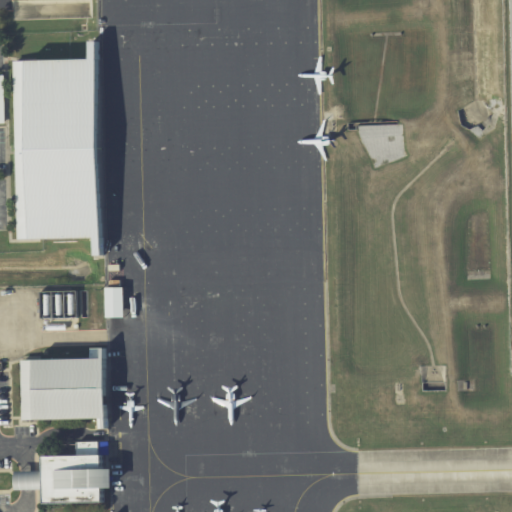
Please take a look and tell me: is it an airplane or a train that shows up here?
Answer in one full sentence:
The image shows an airplane.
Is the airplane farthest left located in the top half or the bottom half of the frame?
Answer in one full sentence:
Seen from above, the airplane farthest left lies in the bottom half of the view.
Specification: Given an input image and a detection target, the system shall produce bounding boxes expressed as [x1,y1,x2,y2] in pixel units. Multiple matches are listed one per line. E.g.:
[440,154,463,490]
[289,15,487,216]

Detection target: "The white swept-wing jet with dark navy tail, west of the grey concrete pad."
[297,122,333,162]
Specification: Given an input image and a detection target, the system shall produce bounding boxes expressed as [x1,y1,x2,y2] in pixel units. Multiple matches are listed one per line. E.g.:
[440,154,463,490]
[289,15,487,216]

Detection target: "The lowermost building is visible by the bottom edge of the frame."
[41,456,115,504]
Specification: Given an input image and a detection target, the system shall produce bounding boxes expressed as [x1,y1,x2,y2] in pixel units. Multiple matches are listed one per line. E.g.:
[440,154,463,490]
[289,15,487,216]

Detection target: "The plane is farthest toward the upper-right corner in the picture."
[298,56,333,95]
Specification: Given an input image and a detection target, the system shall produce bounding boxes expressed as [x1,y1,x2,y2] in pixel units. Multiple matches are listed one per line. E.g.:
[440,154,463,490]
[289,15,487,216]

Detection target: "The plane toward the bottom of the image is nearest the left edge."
[118,394,144,428]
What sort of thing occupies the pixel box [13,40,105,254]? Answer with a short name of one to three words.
hangar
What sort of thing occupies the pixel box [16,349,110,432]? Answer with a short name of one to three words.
hangar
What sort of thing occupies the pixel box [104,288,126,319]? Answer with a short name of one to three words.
shed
